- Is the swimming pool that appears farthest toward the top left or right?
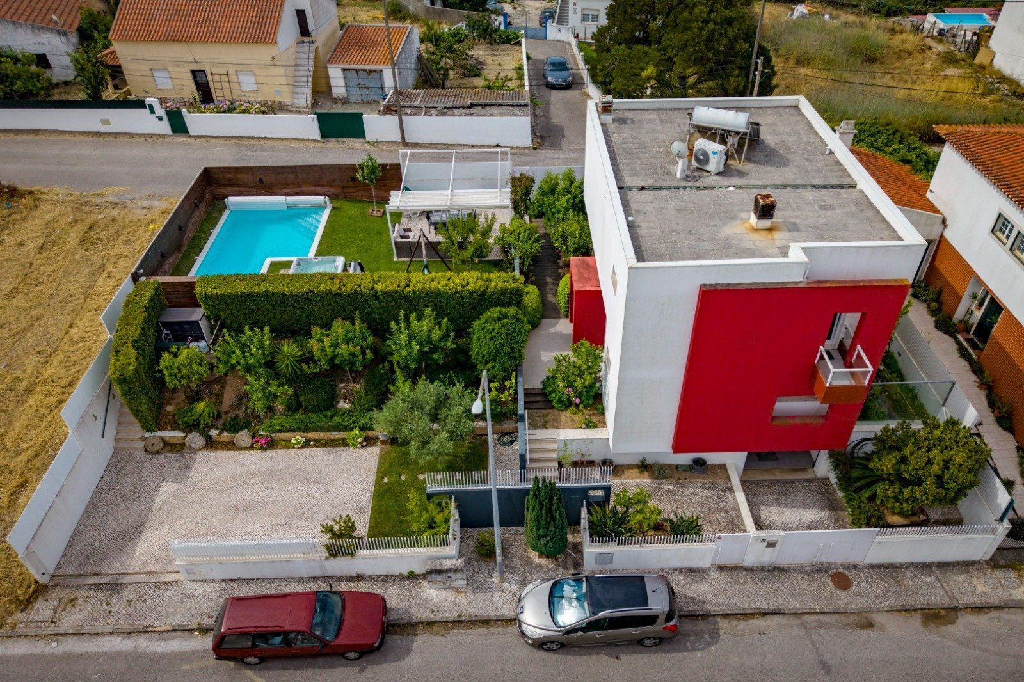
right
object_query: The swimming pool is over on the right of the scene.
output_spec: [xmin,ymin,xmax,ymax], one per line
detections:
[924,12,993,42]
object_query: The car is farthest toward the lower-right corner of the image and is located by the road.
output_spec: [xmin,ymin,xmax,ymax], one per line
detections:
[517,574,682,656]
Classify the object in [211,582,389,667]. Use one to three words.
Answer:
car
